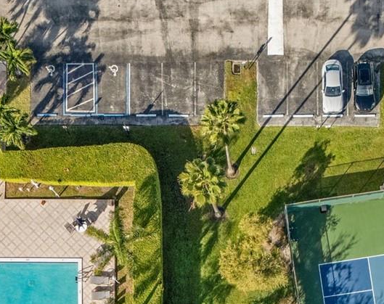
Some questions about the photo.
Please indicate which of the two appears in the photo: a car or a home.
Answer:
car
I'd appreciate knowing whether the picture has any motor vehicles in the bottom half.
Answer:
No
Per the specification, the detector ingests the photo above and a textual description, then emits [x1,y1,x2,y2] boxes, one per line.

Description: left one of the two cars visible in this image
[320,58,348,113]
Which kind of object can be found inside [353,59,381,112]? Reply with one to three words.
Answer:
car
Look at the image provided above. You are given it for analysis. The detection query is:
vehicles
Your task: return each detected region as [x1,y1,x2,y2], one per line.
[353,59,381,112]
[320,58,348,113]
